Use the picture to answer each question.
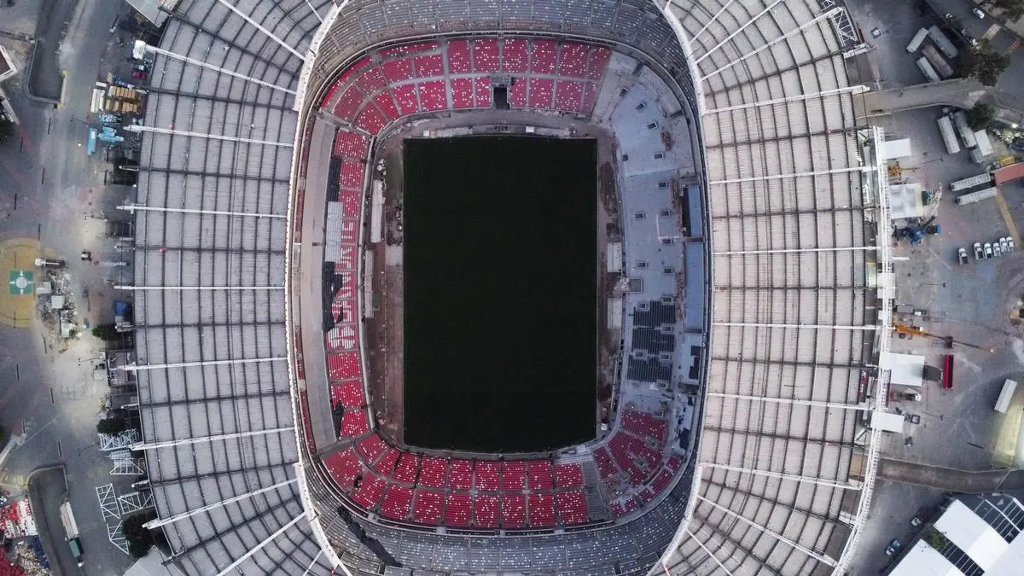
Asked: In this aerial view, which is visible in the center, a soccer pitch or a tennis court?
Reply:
soccer pitch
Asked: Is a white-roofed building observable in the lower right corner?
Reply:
Yes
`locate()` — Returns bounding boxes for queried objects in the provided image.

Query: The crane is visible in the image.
[892,319,993,351]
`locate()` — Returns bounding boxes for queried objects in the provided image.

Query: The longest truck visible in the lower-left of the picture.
[60,500,86,567]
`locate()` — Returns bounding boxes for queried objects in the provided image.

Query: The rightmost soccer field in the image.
[402,133,598,455]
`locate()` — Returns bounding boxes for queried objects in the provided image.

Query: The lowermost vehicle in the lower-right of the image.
[884,539,899,555]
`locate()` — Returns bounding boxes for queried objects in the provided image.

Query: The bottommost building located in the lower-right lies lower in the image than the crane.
[884,486,1024,576]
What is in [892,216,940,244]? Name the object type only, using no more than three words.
truck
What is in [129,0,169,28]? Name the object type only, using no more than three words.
building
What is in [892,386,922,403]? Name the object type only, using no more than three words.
vehicle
